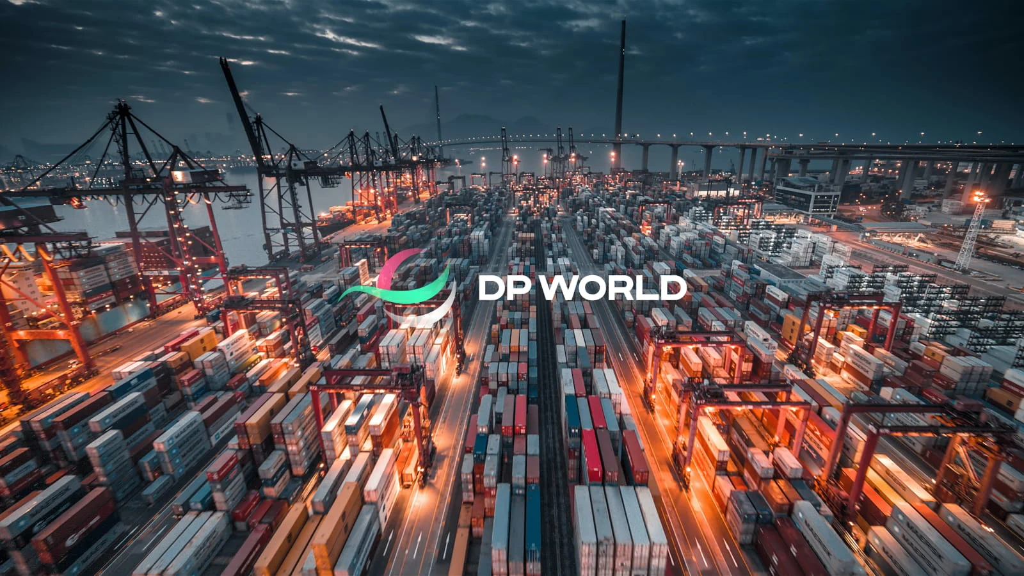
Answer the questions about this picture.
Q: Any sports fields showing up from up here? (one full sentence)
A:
No, no sports field is visible in the scene.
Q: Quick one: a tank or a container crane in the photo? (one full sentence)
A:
Visible in the photo is a container crane.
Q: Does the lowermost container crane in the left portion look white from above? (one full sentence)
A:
No, the color of the lowermost container crane in the left portion is red.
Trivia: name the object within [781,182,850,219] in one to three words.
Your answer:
building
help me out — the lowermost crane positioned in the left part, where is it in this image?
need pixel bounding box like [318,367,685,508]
[297,377,436,495]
